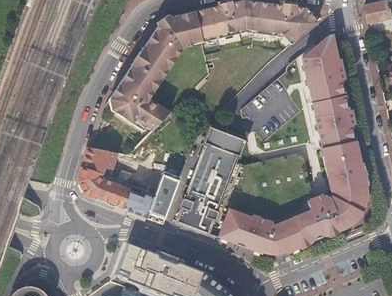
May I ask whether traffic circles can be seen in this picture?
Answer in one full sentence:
Yes, a traffic circle can be made out from above.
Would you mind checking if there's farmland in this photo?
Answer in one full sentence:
No, there is no farmland in the image.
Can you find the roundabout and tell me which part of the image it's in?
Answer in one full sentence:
You can find the roundabout in the bottom left area of the picture.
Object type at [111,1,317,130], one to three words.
building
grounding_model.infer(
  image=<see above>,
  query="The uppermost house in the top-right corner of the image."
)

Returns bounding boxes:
[364,0,392,26]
